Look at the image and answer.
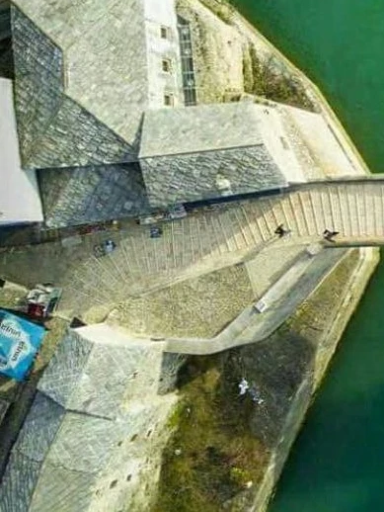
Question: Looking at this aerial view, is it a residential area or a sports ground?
residential area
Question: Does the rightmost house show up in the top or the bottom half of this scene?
top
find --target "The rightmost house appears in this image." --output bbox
[139,99,315,208]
